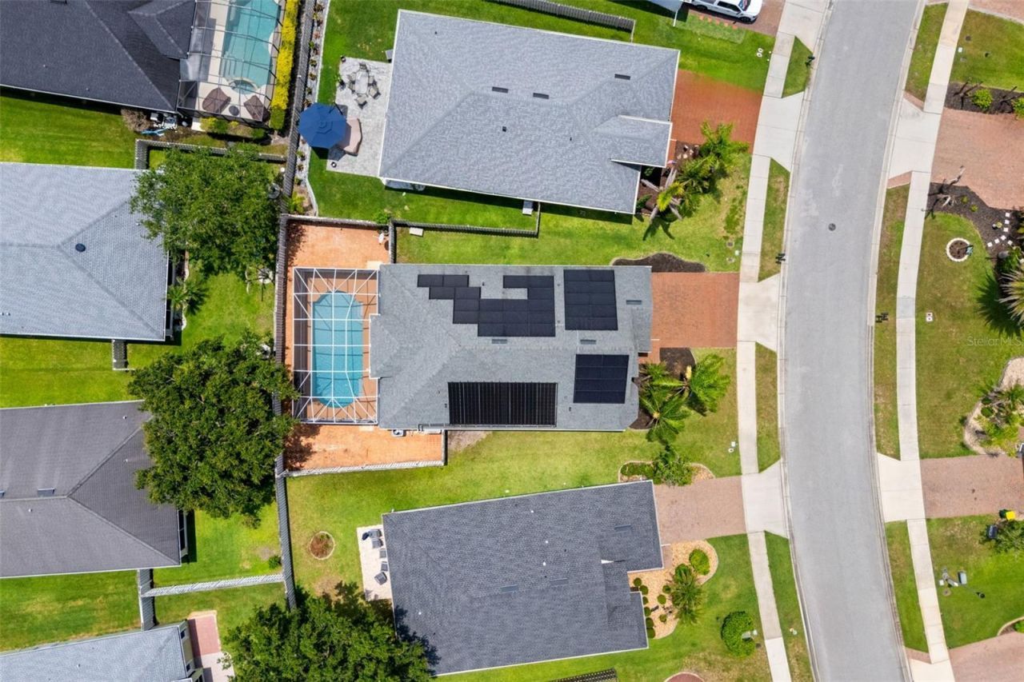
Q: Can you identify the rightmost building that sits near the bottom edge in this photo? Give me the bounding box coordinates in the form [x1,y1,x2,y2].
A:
[382,479,663,680]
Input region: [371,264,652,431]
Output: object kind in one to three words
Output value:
house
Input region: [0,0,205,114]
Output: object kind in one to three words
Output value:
house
